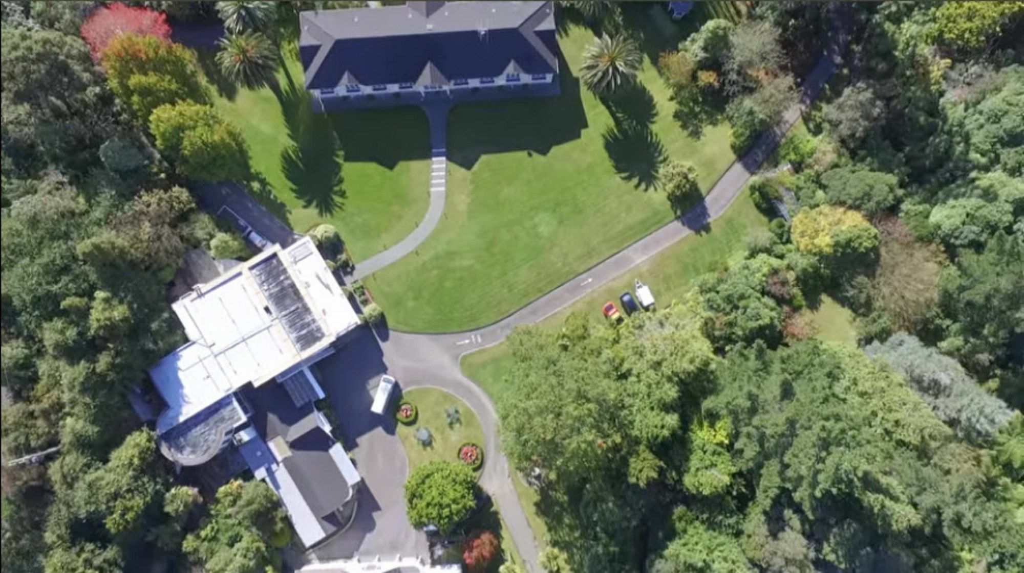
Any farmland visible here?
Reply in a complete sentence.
No, there's no farmland in this view.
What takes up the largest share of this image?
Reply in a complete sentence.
Most of the picture is covered by trees.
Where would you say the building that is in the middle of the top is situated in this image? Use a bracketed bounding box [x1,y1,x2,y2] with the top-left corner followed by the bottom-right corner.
[299,0,556,102]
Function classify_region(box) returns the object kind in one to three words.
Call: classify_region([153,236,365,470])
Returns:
building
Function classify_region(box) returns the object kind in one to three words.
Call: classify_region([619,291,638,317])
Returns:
car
